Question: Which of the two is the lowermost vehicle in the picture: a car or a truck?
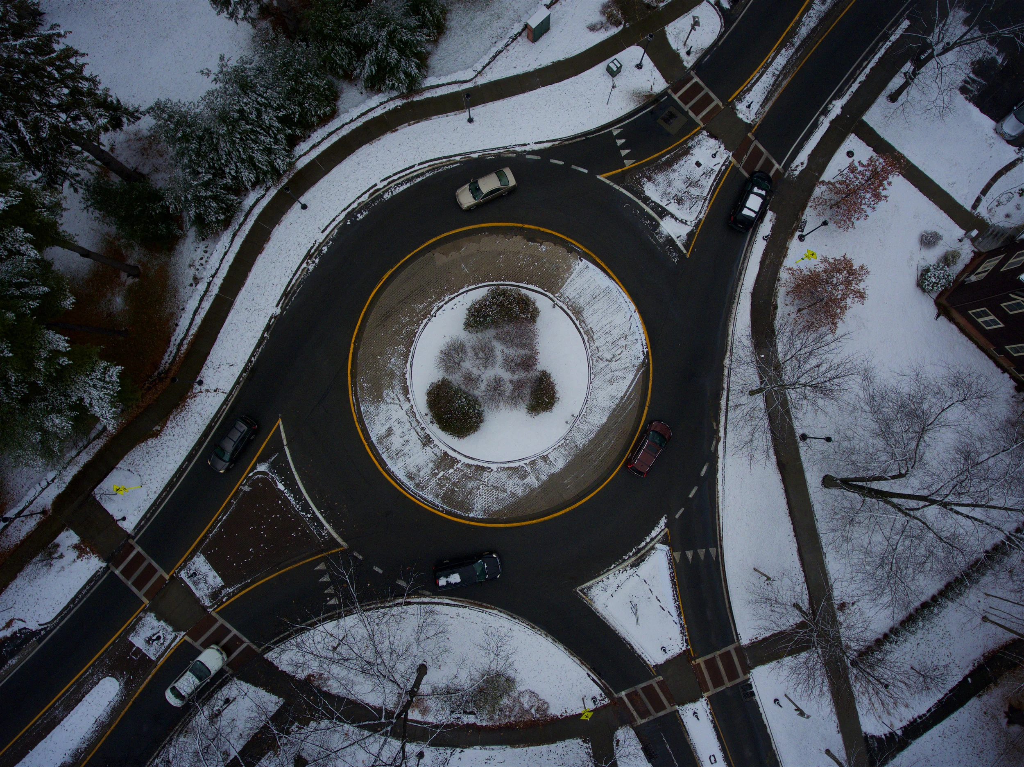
car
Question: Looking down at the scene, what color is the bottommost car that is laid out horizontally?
black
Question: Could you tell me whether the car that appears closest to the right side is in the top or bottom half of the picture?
top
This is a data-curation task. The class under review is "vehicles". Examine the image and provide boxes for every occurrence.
[162,644,229,710]
[207,413,260,473]
[457,167,517,208]
[431,554,502,594]
[626,420,671,479]
[996,96,1024,139]
[728,168,773,233]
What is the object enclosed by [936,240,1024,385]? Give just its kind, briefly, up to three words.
house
